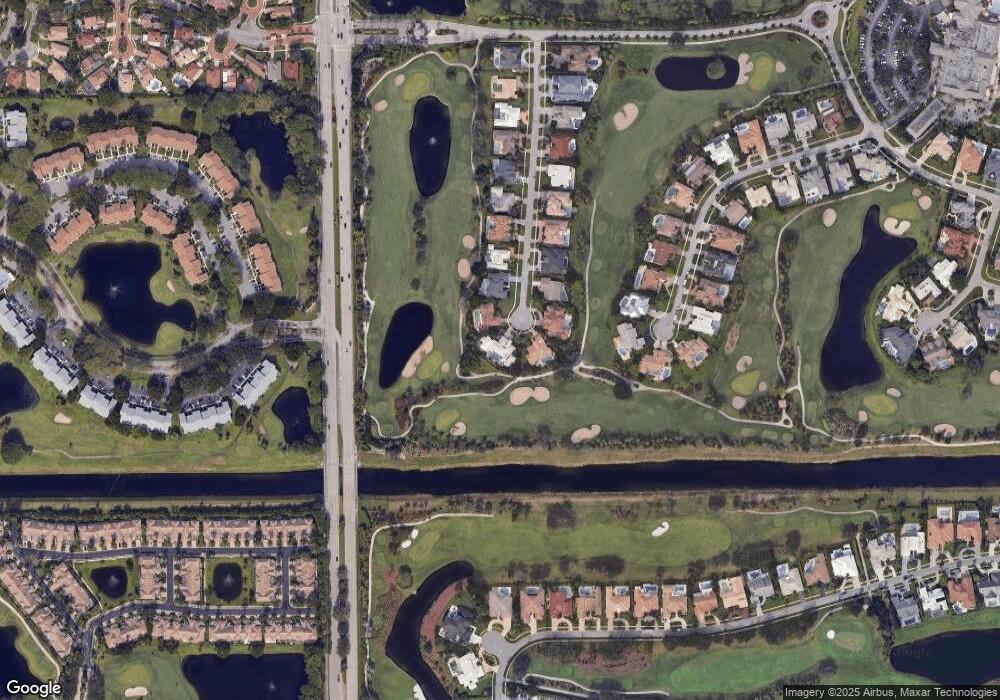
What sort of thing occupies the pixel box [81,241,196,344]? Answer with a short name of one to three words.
pond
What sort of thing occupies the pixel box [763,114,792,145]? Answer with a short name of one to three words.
house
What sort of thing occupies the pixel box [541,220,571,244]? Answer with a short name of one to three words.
house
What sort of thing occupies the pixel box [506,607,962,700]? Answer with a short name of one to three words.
golf course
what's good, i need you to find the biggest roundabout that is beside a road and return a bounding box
[802,1,838,37]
